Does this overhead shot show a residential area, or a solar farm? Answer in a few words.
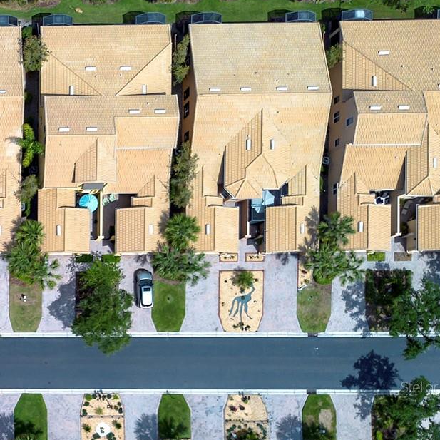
residential area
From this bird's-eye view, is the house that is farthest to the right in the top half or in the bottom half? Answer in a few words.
top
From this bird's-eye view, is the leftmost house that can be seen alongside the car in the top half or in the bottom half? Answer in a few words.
top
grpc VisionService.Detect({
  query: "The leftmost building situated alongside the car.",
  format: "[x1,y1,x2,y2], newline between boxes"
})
[39,12,180,255]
